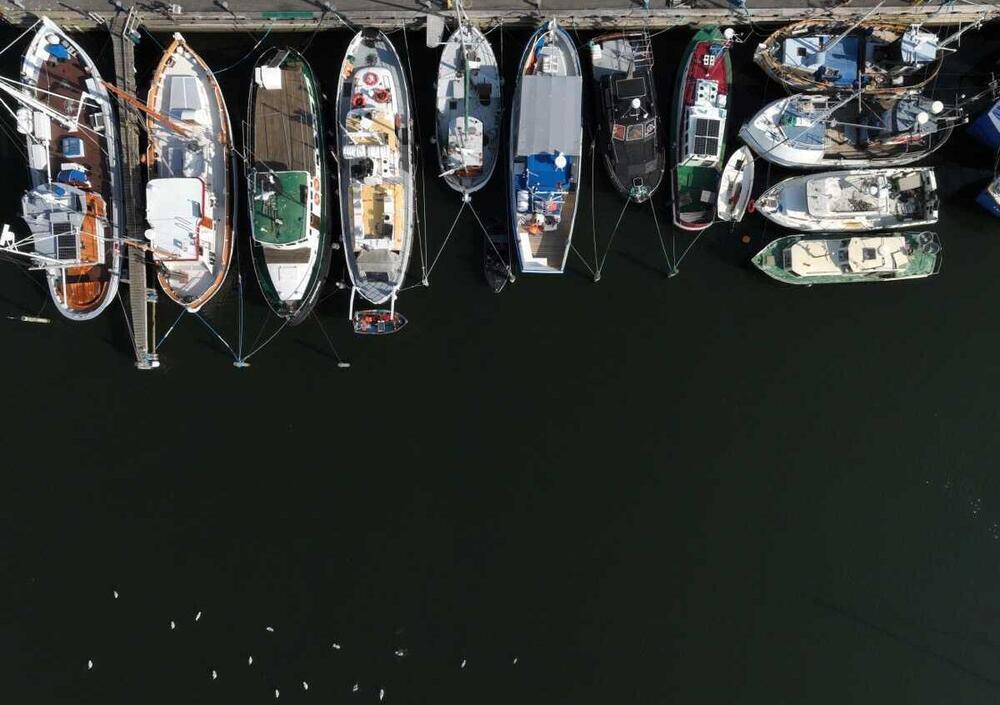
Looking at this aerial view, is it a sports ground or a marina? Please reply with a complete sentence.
The picture captures a marina.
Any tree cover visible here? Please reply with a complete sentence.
No, the scene doesn't show any tree cover.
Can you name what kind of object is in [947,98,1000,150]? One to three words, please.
boat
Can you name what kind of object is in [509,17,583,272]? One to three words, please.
boat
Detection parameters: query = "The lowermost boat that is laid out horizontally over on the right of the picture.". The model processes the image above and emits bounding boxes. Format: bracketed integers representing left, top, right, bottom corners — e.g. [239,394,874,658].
[747,232,942,285]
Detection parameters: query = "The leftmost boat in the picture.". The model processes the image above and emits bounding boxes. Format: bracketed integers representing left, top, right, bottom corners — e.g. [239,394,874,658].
[0,16,131,321]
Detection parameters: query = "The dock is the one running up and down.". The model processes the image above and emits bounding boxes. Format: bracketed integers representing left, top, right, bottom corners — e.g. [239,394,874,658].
[112,6,163,368]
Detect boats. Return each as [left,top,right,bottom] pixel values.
[236,47,331,319]
[947,98,1000,150]
[337,27,417,320]
[107,32,241,311]
[591,30,666,206]
[718,149,755,227]
[354,310,408,335]
[0,16,131,321]
[955,179,1000,215]
[743,0,1000,97]
[731,76,996,169]
[509,17,583,272]
[747,232,942,285]
[753,167,940,232]
[668,25,752,231]
[437,0,500,205]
